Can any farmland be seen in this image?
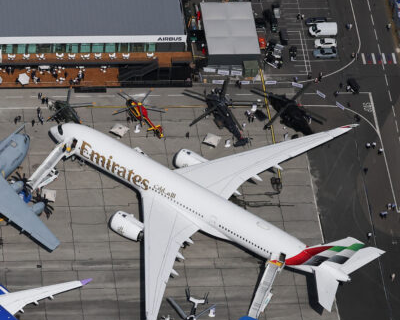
No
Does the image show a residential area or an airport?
airport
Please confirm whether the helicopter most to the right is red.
No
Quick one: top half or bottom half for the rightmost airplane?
bottom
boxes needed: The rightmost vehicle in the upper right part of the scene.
[344,77,363,94]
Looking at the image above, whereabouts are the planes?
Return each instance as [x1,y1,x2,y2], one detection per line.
[49,126,388,320]
[0,277,88,320]
[0,123,55,250]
